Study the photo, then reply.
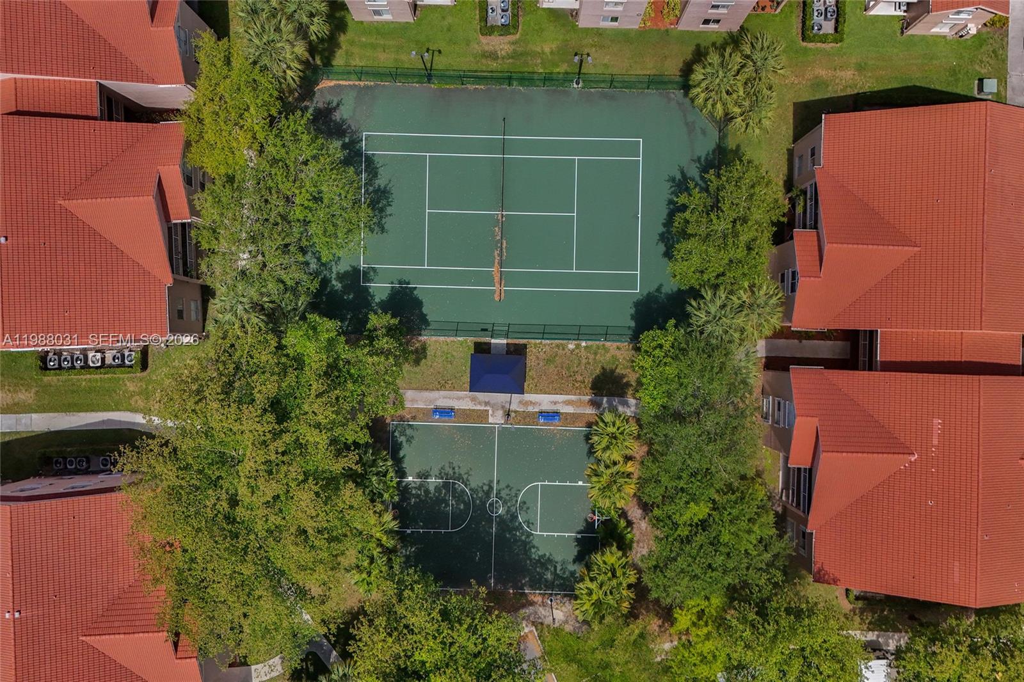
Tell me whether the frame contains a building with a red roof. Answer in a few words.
Yes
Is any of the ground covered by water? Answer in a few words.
No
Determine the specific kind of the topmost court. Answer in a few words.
tennis court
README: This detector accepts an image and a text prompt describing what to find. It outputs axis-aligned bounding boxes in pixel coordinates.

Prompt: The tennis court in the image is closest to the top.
[299,84,719,342]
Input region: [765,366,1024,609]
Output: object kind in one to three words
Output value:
building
